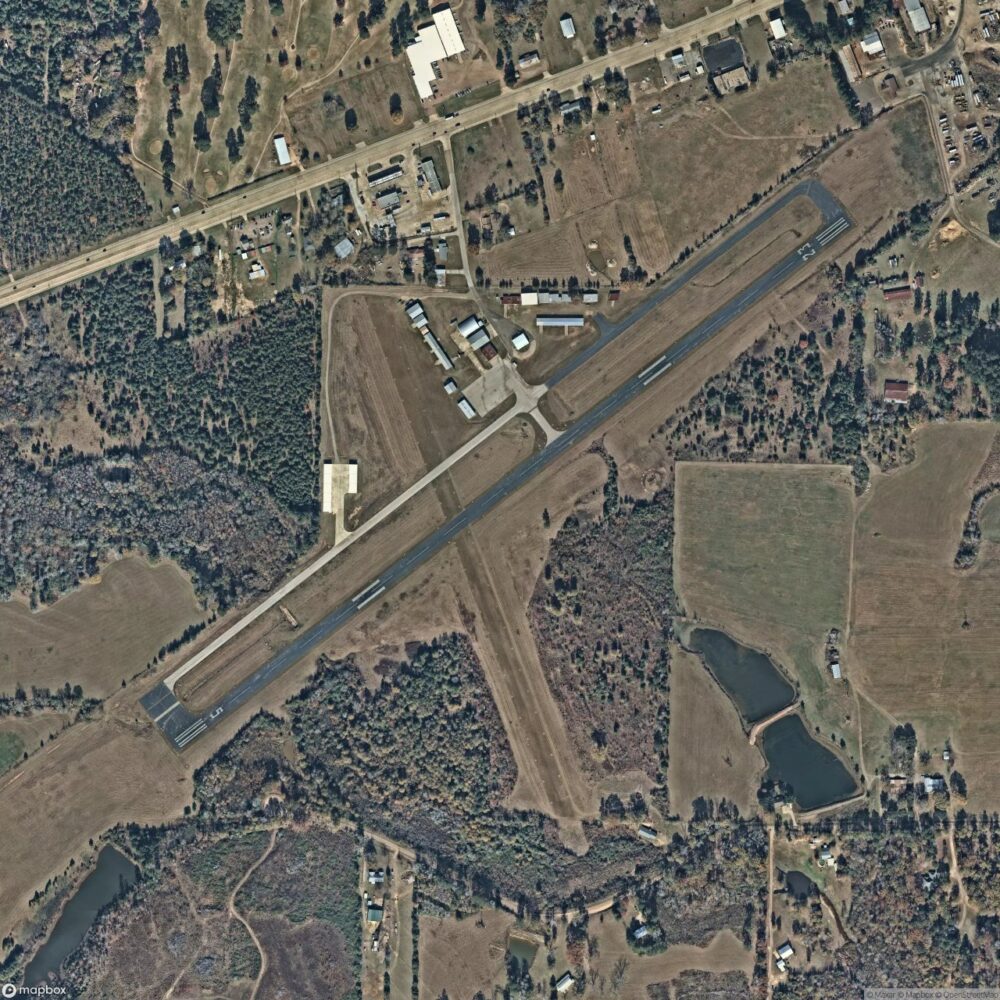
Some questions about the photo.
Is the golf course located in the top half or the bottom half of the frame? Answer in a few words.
top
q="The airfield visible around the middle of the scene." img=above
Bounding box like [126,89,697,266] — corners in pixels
[0,177,859,829]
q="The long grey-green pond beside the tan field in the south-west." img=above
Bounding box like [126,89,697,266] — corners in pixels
[24,845,139,987]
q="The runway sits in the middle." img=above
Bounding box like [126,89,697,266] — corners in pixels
[174,220,855,751]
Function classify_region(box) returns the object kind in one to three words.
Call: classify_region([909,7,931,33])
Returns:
building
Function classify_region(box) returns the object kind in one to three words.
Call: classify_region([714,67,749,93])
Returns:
building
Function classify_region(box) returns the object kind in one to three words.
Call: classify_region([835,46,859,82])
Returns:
shed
